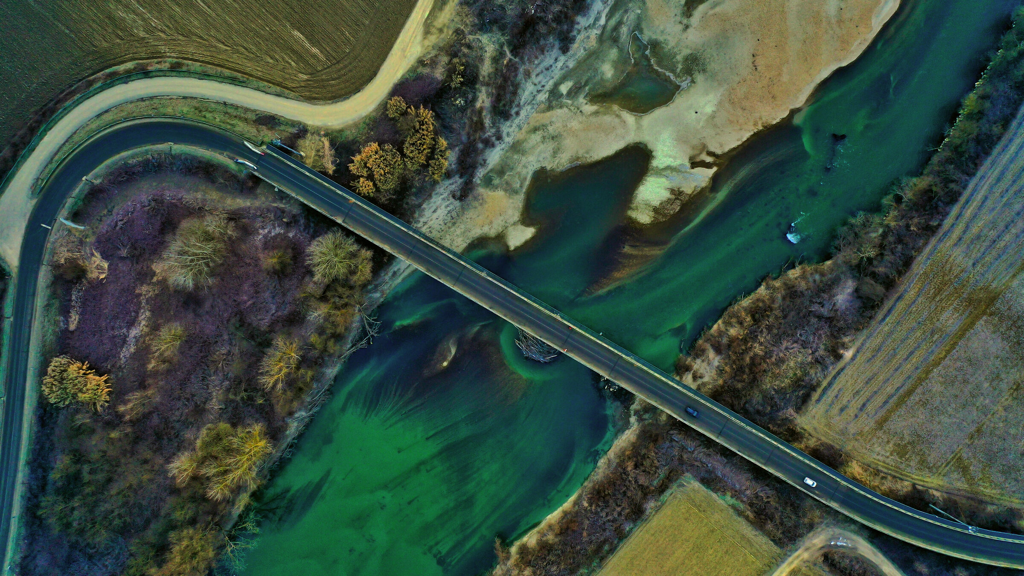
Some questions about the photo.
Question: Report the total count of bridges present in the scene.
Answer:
1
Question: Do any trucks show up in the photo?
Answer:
No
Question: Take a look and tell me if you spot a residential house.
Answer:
No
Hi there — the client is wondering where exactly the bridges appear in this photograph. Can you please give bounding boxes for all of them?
[250,142,853,516]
